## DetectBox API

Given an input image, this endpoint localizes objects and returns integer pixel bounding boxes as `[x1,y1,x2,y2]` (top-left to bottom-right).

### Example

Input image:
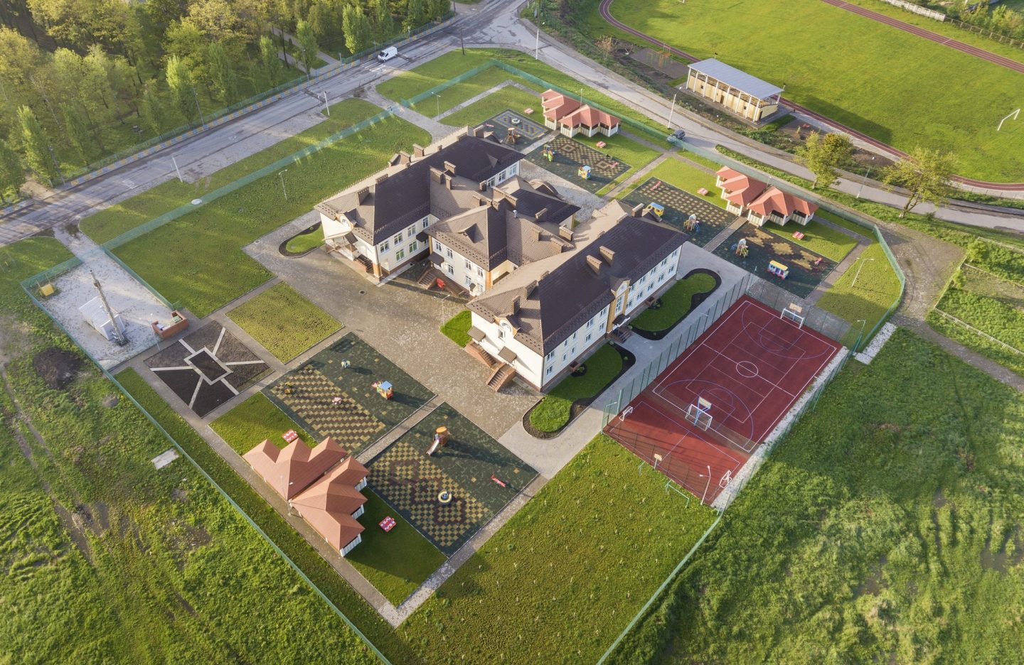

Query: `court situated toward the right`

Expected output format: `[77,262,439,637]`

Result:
[603,295,842,504]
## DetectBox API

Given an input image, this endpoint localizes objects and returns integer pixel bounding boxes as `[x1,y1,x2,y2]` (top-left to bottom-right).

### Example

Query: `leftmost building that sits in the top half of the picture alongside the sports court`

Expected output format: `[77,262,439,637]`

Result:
[313,125,690,391]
